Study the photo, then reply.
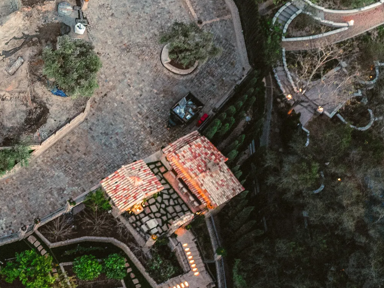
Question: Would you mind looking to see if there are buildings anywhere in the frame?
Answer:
Yes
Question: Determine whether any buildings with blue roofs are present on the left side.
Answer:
No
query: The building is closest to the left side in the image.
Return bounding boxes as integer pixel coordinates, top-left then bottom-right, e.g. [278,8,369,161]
[93,152,168,220]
